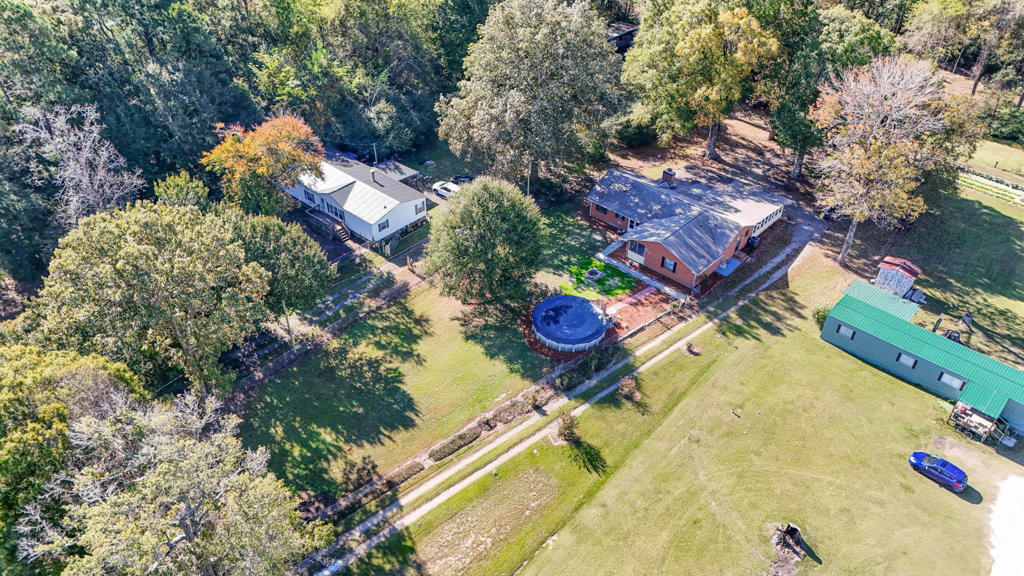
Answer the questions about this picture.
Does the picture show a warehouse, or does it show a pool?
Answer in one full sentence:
There is a pool in the scene.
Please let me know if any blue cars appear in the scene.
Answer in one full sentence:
Yes, there's a blue car down there.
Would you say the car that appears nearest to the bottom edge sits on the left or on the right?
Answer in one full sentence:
It is on the right.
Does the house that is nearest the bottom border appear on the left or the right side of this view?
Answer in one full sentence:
You can find the house that is nearest the bottom border on the right side of the picture.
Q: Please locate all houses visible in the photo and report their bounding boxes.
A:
[265,151,426,244]
[821,281,1024,450]
[580,166,792,290]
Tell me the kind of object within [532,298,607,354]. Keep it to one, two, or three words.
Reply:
swimming pool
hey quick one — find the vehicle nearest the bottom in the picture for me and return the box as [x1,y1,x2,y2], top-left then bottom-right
[908,448,972,490]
